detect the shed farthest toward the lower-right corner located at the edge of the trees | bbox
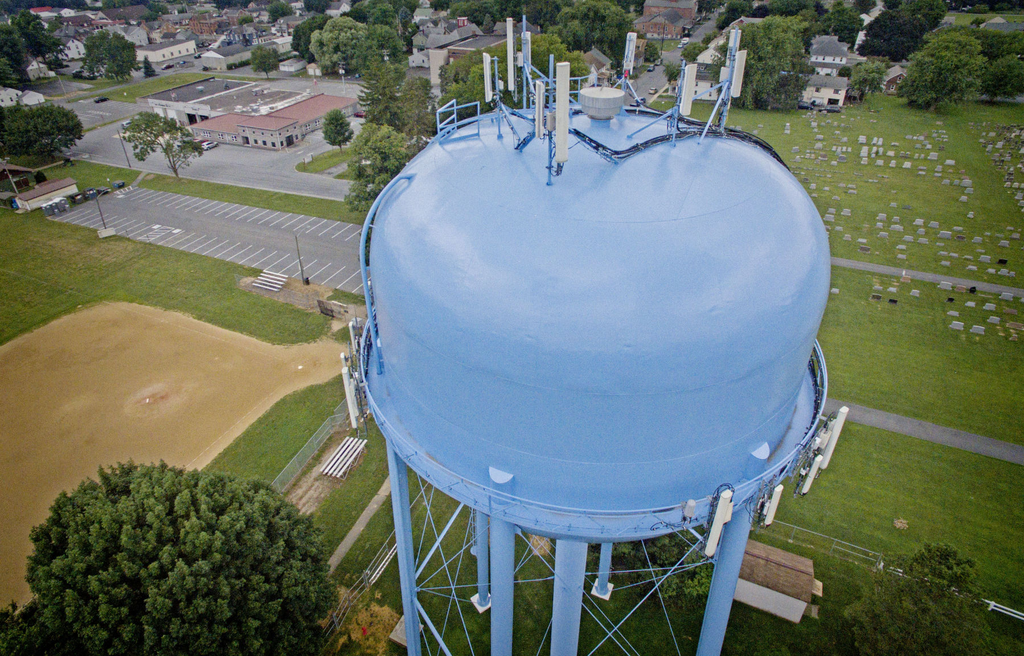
[733,542,822,622]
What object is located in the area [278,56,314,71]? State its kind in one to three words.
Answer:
building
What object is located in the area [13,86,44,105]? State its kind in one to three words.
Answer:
shed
